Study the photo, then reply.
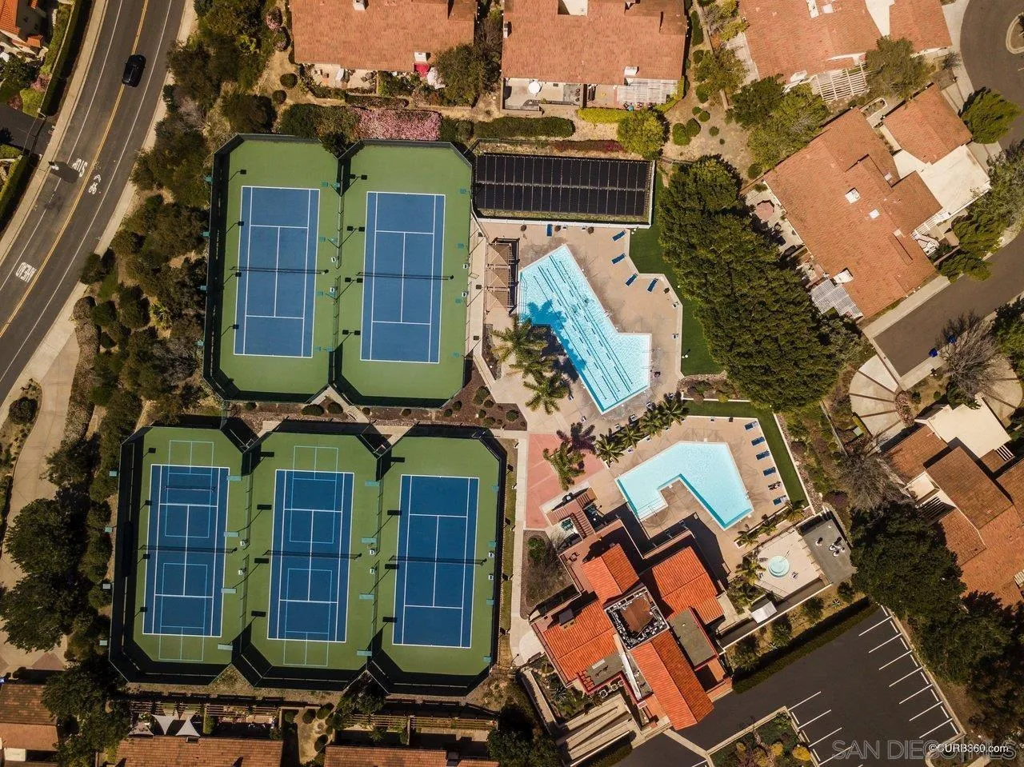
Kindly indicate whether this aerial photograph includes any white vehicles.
No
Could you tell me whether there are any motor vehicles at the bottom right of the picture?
No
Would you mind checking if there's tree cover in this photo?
Yes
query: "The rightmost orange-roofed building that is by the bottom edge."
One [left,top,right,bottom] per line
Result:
[528,512,733,741]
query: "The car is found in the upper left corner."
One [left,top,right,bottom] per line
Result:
[122,53,146,89]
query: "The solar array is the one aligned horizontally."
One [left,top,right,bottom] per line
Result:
[474,155,647,216]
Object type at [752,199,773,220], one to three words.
umbrella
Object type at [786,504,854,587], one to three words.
building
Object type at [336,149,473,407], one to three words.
tennis court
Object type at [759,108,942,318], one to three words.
house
